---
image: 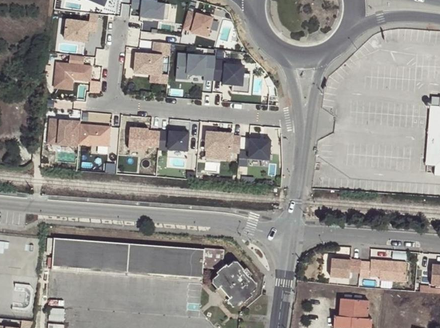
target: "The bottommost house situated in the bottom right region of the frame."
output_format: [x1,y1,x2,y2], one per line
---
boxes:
[334,300,373,328]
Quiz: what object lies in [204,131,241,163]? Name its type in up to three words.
house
